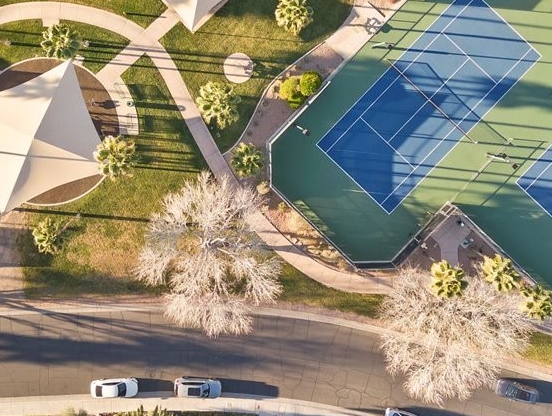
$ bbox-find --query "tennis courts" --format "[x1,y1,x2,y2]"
[272,0,552,262]
[452,98,552,295]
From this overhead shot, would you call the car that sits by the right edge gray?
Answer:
Yes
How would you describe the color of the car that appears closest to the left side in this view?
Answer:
white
